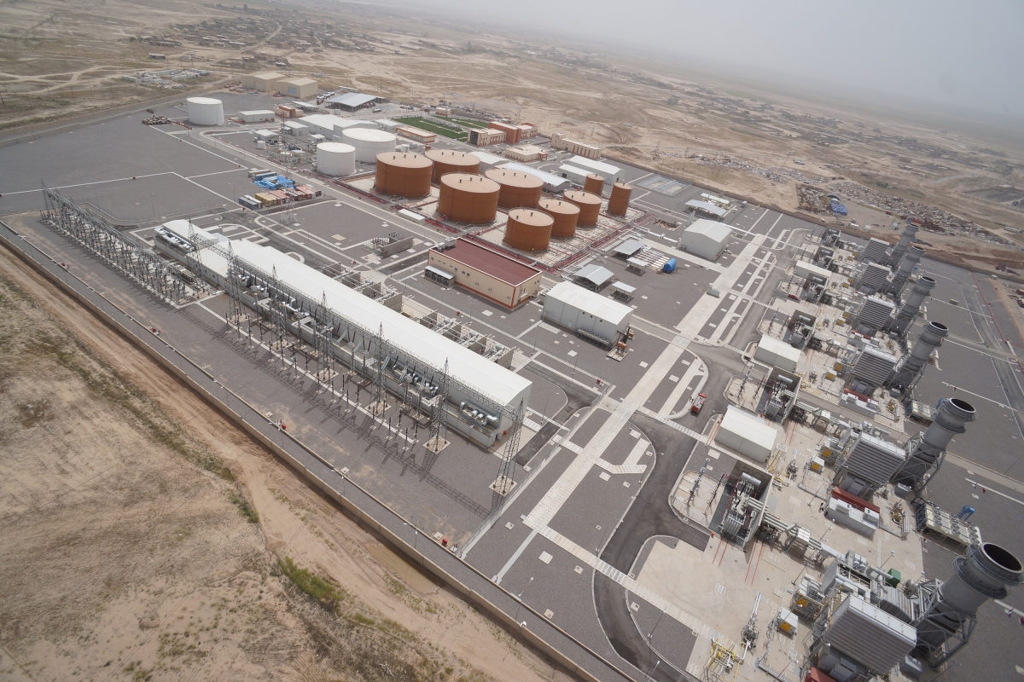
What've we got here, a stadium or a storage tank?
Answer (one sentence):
Visible in the photo is a storage tank.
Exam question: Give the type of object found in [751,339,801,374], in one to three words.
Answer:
shed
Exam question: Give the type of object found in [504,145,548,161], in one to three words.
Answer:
building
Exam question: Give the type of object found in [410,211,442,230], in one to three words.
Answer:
building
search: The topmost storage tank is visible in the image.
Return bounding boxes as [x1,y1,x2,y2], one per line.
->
[184,96,226,124]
